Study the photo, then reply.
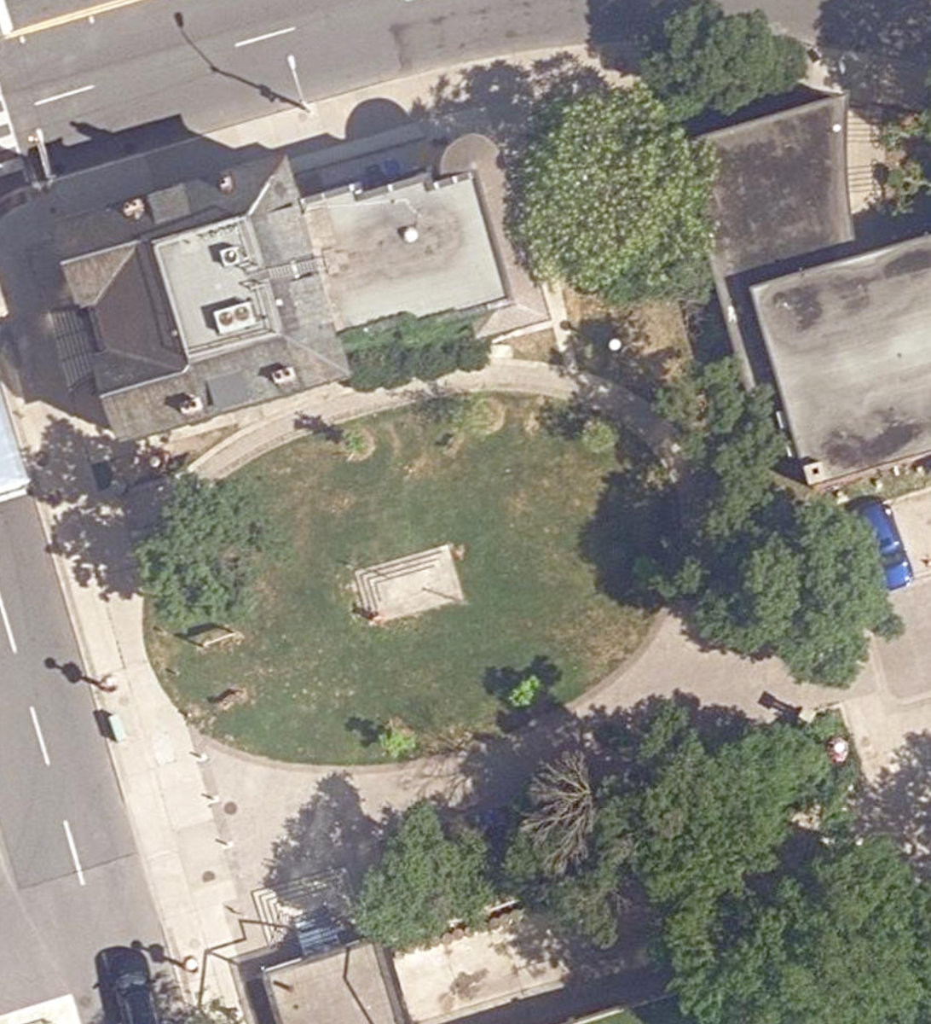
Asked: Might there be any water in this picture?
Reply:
No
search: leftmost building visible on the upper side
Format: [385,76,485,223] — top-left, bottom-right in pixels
[51,155,351,442]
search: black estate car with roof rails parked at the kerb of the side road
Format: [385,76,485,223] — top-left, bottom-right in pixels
[105,938,164,1024]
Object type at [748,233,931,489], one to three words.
building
